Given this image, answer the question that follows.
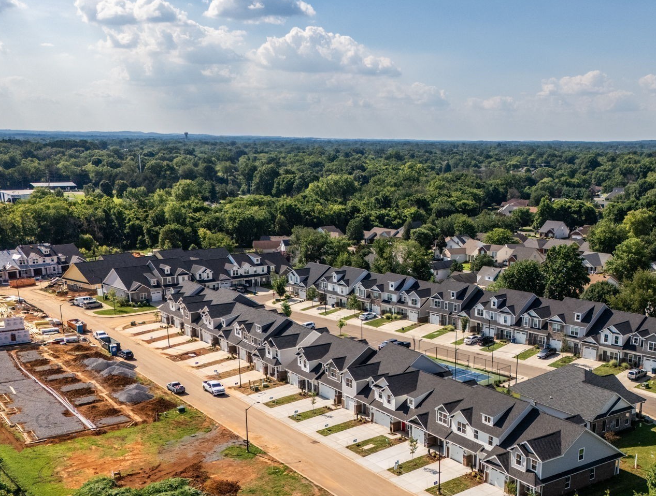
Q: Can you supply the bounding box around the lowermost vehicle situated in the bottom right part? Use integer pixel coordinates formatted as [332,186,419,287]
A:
[626,366,646,379]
